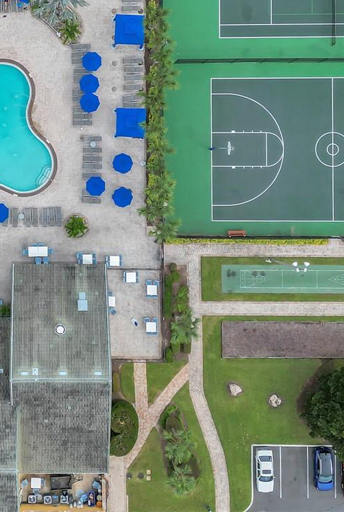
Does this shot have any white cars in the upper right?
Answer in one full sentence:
No, I can find no white car in the upper right.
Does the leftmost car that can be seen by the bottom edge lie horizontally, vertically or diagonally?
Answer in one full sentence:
In this picture, the leftmost car that can be seen by the bottom edge is oriented vertically.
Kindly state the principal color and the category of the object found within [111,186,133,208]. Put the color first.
blue umbrella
